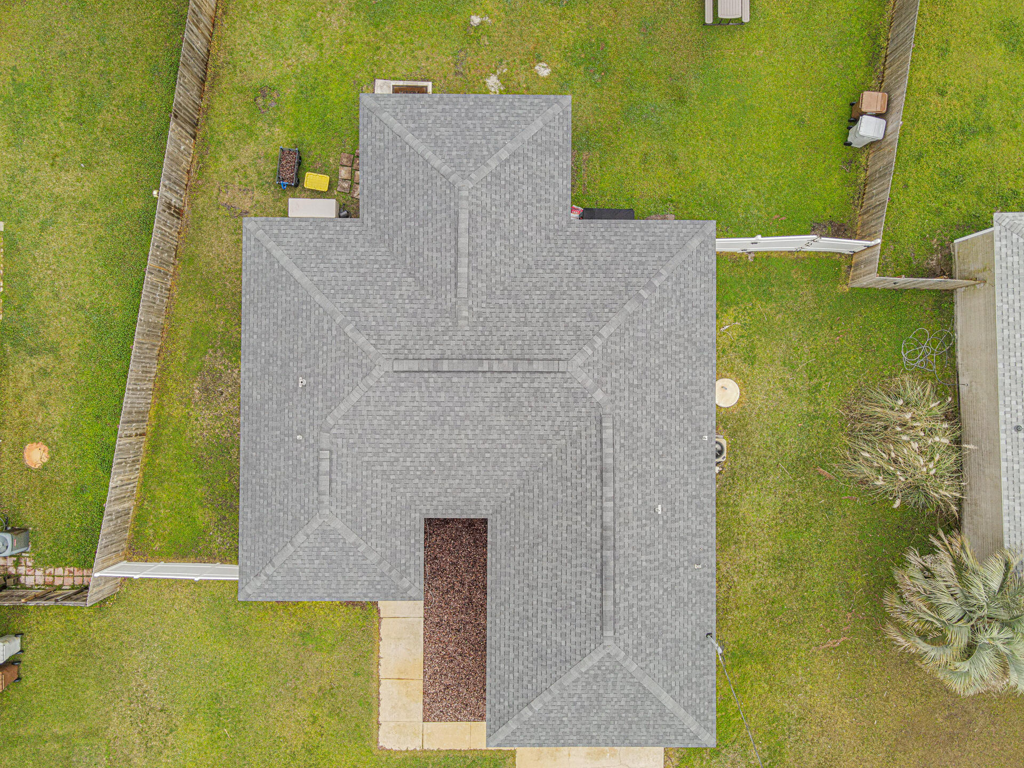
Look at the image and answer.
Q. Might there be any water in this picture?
No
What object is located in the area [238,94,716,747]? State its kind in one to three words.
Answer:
house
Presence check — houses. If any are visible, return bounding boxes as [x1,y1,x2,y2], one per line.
[238,94,716,747]
[952,213,1024,583]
